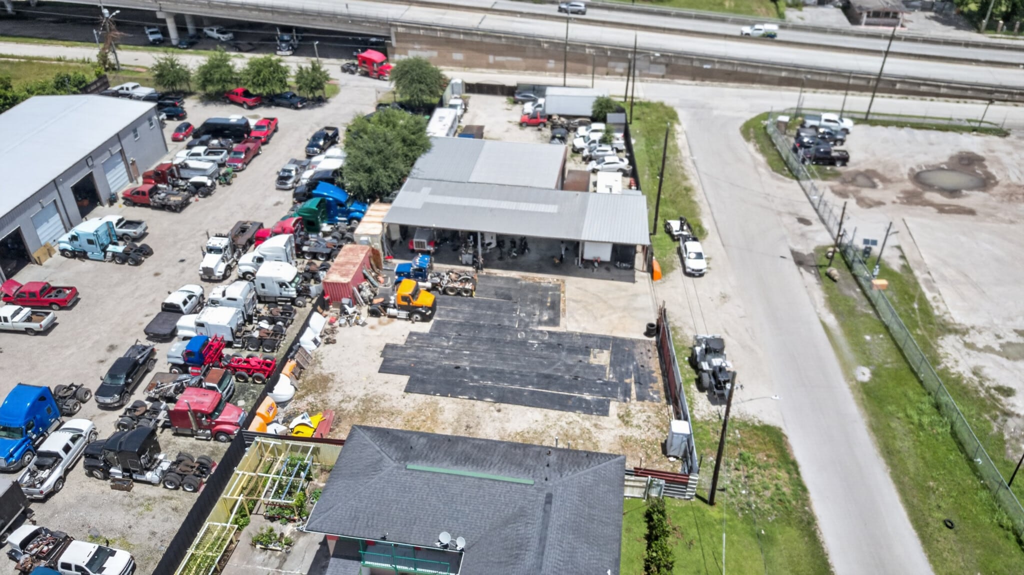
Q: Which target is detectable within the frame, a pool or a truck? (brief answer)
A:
truck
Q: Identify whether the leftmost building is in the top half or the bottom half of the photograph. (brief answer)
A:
top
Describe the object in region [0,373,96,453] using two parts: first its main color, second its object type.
blue truck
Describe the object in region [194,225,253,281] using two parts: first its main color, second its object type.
white truck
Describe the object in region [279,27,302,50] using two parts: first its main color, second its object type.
black truck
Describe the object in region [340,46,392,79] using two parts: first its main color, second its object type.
red truck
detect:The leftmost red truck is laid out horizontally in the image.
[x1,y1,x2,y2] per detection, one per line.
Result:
[0,271,86,310]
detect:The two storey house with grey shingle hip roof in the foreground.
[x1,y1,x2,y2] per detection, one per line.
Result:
[302,424,628,575]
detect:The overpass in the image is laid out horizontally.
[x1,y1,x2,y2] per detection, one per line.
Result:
[0,0,1024,102]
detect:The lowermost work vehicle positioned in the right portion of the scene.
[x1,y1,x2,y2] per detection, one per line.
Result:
[686,323,743,392]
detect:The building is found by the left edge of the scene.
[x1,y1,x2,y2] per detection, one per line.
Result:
[0,93,168,278]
